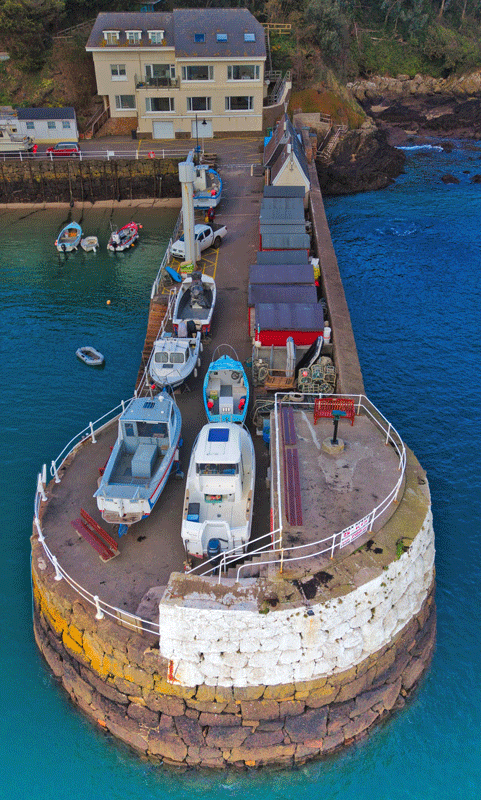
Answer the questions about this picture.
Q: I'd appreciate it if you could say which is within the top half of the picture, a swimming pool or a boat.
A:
boat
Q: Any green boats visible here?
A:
No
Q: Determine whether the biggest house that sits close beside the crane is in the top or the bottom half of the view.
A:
top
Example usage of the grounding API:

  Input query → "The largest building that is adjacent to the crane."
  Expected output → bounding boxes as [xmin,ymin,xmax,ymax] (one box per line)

[86,6,272,138]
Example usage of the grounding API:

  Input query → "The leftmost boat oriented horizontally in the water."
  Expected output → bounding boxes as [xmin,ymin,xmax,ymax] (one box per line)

[75,350,107,366]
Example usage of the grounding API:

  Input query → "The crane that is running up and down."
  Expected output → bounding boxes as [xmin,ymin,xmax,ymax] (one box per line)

[178,136,201,266]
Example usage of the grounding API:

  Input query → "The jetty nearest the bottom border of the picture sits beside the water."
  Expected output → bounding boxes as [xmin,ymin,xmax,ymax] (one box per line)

[34,158,438,766]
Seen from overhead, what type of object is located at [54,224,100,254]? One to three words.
boat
